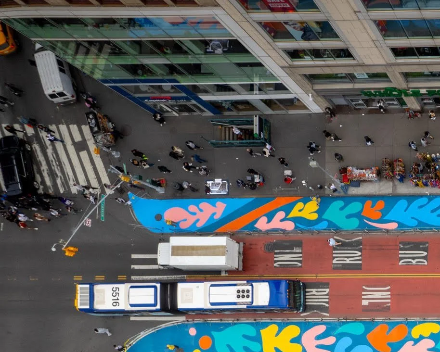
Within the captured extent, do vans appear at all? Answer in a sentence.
Yes, the photo shows a van.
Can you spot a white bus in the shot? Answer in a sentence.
Yes, the image includes a white bus.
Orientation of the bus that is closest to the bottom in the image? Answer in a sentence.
From this overhead view, the bus that is closest to the bottom appears to run horizontally.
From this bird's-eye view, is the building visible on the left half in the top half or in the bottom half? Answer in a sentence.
The building visible on the left half sits in the top half of the picture.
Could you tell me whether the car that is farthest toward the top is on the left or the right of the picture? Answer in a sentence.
It is on the left.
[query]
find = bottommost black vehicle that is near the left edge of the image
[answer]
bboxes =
[0,139,44,205]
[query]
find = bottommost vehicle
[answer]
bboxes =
[76,279,307,316]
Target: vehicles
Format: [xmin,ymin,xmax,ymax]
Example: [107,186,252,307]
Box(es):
[0,139,44,205]
[76,279,307,316]
[0,23,28,62]
[33,44,86,107]
[162,236,246,273]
